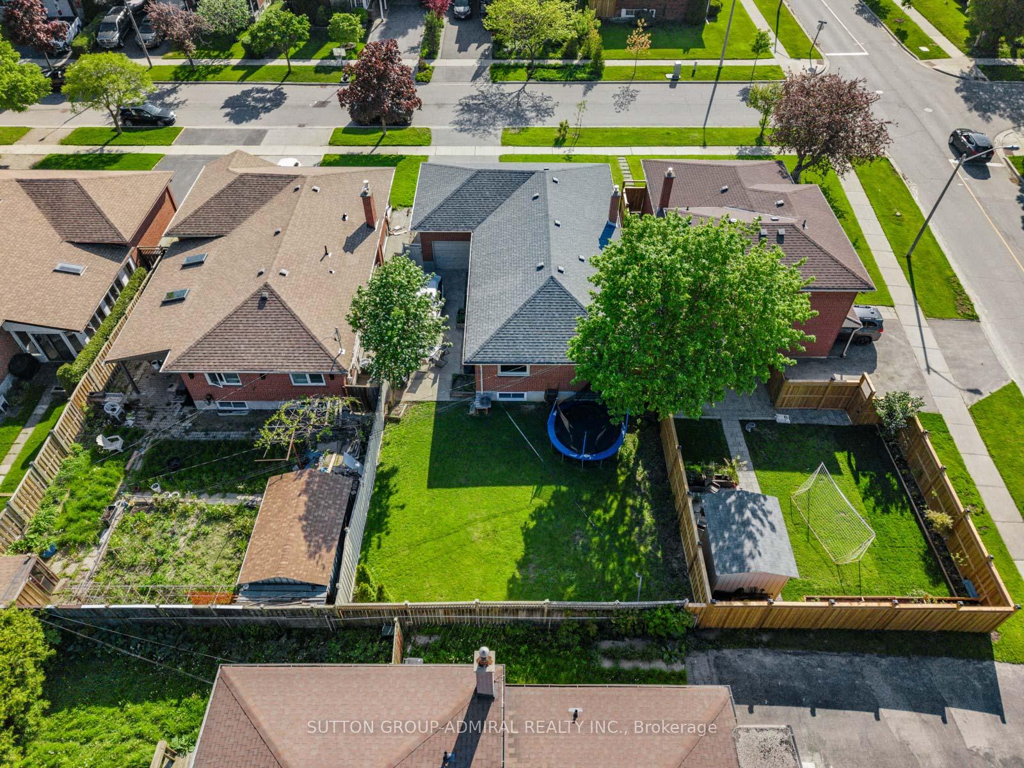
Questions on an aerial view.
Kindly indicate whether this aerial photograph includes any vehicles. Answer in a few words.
Yes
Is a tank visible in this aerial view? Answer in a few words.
No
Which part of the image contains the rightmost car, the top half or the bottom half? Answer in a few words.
top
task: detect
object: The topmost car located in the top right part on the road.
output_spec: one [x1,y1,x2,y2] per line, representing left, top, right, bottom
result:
[947,129,1005,164]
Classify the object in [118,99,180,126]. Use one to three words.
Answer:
car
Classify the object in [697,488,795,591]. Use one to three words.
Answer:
shed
